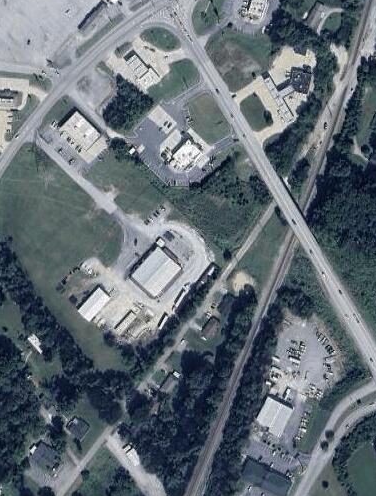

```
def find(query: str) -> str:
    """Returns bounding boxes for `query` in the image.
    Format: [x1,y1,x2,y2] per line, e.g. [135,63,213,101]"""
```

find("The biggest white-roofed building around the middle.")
[129,246,185,302]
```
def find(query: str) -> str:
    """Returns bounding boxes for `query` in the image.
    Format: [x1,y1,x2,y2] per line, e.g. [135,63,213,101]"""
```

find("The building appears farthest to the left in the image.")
[0,90,21,106]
